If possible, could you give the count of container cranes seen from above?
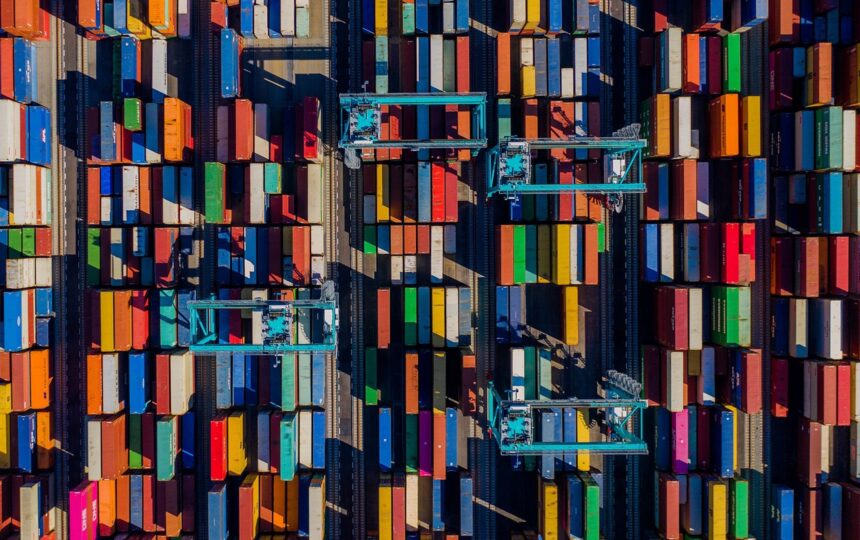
4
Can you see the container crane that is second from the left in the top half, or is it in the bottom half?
top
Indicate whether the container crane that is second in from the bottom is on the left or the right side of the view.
left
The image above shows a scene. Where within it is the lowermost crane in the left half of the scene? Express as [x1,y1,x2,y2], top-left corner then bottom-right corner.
[186,277,345,364]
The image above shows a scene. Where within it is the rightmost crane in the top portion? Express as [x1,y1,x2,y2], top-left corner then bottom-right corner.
[486,115,648,215]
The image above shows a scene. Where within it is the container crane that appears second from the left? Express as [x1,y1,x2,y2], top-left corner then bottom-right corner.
[332,83,490,181]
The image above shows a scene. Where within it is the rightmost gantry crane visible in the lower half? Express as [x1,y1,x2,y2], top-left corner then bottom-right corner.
[488,364,651,464]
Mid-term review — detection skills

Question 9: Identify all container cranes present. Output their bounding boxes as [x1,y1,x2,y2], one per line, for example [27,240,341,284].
[488,364,651,464]
[332,83,490,181]
[186,277,345,364]
[486,115,648,215]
